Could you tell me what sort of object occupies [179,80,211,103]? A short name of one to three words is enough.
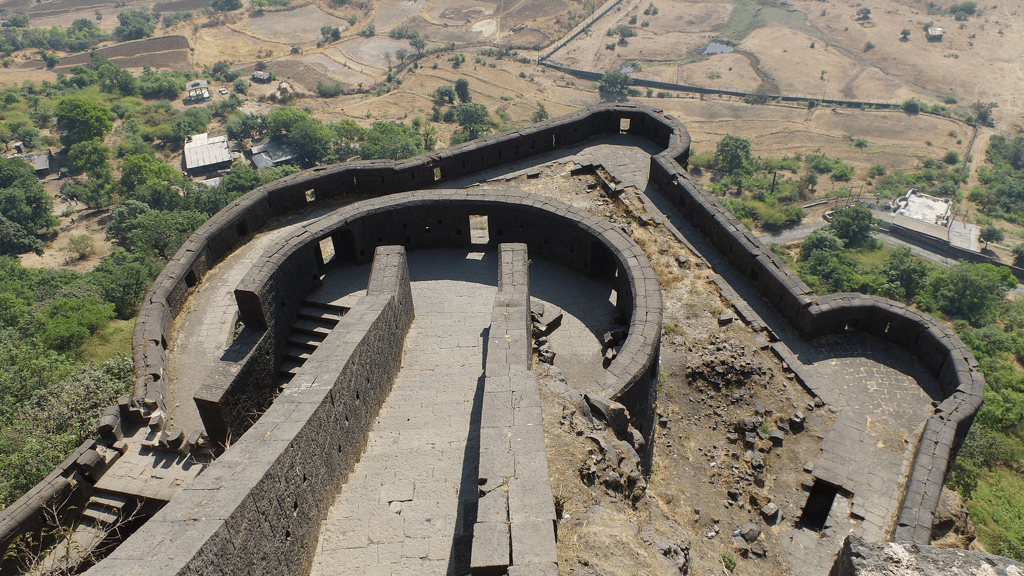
building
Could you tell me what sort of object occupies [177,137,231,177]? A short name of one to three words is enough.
house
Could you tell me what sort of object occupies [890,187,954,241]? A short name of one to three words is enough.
house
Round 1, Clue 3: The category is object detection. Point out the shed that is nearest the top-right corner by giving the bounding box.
[921,26,946,42]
